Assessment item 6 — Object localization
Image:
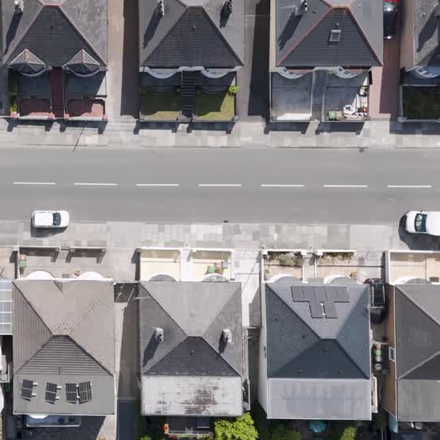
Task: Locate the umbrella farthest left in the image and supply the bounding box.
[310,420,327,434]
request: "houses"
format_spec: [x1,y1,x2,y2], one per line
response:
[271,0,384,79]
[2,0,107,78]
[381,272,440,422]
[401,0,440,79]
[138,270,244,435]
[138,0,245,79]
[260,272,372,421]
[12,268,115,427]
